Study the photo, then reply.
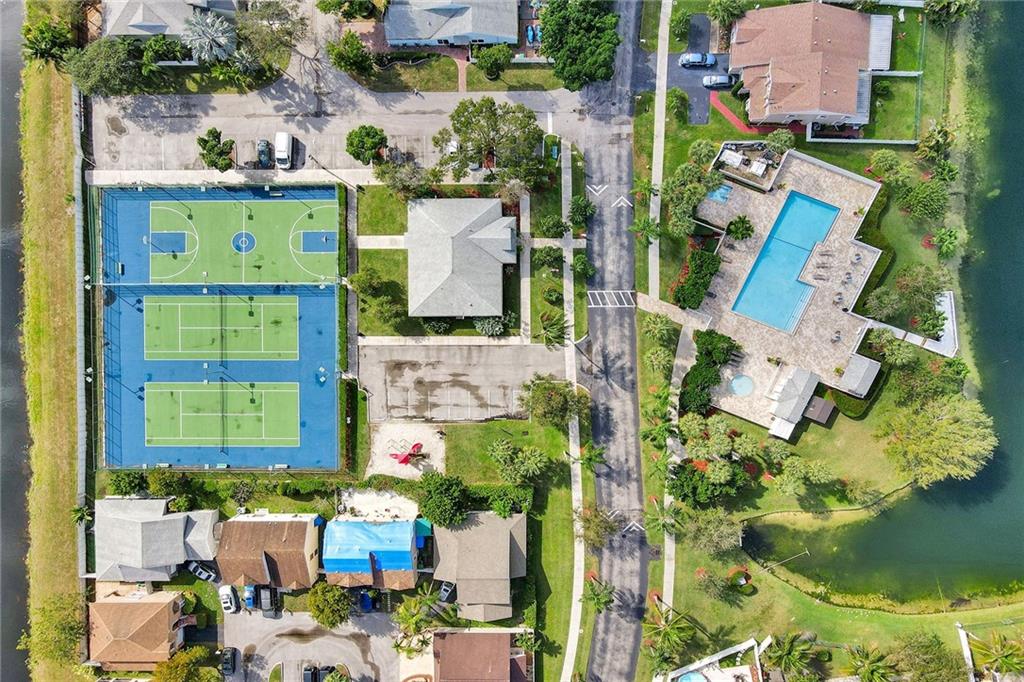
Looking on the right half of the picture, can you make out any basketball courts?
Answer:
No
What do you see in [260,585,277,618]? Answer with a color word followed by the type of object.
gray vehicle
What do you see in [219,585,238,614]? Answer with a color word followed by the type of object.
white car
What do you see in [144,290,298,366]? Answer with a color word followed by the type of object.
green tennis court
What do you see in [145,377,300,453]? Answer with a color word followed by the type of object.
green tennis court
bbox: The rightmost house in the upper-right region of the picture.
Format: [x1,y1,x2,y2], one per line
[724,2,870,125]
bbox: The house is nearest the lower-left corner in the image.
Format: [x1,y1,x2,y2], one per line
[89,594,181,671]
